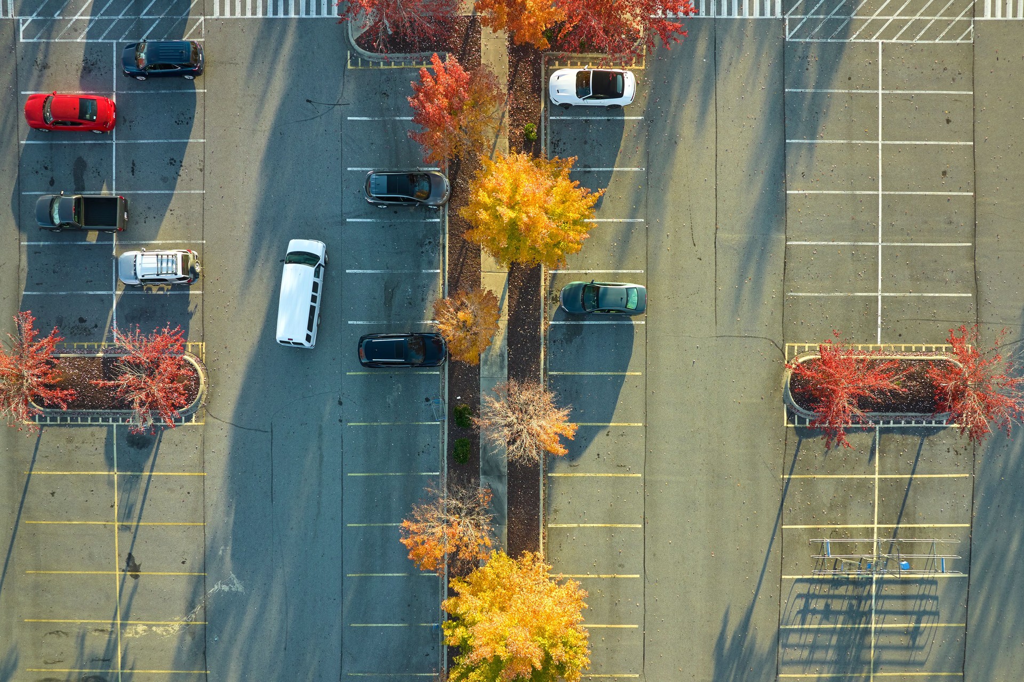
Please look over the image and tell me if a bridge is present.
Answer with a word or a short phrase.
No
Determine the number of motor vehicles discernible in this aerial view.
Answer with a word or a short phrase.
9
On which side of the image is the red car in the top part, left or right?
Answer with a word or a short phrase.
left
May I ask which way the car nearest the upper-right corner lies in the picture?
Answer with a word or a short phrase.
from side to side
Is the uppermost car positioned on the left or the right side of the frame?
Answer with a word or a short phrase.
left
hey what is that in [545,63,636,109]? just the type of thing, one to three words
car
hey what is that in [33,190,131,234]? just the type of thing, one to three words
truck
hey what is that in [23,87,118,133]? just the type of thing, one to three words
car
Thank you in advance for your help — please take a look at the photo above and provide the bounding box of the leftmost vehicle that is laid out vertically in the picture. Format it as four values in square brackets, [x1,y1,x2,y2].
[276,239,331,351]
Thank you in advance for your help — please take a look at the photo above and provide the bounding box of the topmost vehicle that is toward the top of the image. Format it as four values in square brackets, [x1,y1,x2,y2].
[120,34,208,80]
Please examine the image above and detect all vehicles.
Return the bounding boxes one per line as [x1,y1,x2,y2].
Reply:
[23,87,118,133]
[545,63,636,109]
[276,239,331,351]
[33,190,131,234]
[116,245,205,288]
[364,165,453,209]
[120,34,208,80]
[359,328,452,372]
[556,277,646,319]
